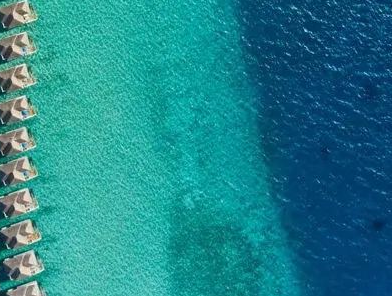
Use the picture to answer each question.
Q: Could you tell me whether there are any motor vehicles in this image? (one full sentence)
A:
No, there appears to be no motor vehicle in this shot.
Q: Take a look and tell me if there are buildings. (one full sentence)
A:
Yes, this view includes a building.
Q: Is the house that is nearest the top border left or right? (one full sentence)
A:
The house that is nearest the top border is on the left side of the image.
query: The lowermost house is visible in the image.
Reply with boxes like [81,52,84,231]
[7,278,47,296]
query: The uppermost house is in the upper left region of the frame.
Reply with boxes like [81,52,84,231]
[0,0,38,29]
